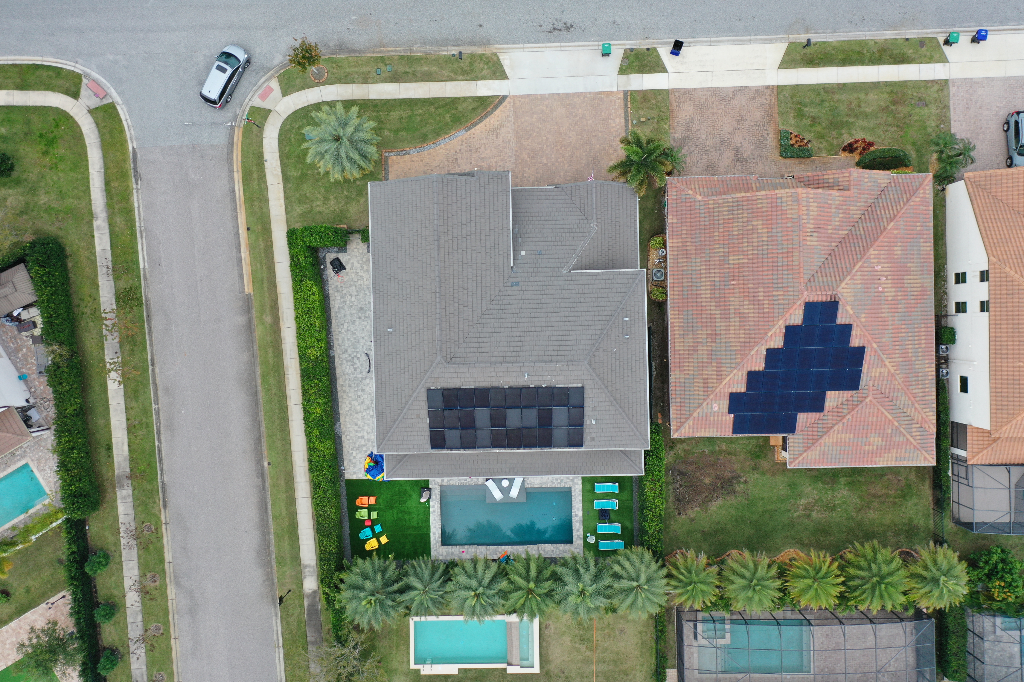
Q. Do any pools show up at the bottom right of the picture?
Yes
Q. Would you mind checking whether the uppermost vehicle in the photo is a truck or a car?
car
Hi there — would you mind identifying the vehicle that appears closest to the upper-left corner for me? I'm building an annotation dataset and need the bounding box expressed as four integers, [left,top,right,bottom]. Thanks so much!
[196,40,248,107]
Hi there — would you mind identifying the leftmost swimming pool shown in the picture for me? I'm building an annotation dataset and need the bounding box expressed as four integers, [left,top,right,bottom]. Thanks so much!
[0,457,52,531]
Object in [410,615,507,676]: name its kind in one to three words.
swimming pool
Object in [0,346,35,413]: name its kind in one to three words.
house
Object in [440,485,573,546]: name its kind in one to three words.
swimming pool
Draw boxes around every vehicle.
[1006,111,1024,169]
[196,40,248,107]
